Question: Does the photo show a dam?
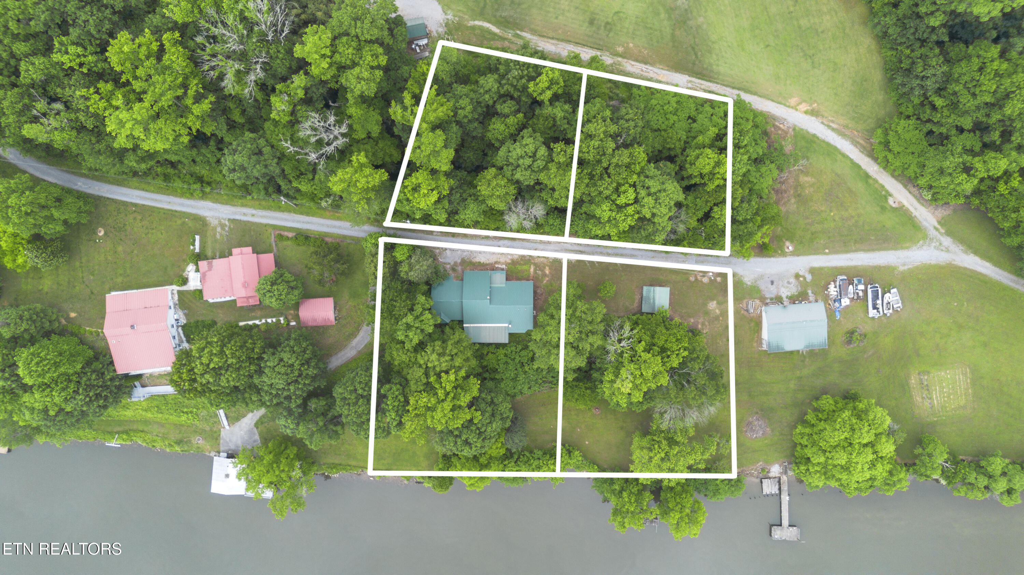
No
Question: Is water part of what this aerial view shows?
Yes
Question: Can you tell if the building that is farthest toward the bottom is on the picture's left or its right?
left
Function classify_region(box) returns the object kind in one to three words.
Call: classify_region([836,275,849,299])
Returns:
vehicle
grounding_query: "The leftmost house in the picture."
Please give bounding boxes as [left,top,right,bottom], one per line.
[103,288,176,375]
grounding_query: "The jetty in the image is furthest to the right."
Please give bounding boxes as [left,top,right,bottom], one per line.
[770,463,800,542]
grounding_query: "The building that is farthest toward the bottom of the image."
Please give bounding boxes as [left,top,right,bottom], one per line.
[211,456,271,500]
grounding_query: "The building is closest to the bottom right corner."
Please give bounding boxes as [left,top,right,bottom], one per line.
[758,302,827,353]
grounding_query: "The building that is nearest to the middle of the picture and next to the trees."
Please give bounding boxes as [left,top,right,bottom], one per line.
[431,264,533,343]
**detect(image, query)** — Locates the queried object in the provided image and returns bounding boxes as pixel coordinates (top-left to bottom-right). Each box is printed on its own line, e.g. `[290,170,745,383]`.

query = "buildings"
[211,456,271,500]
[103,288,176,375]
[199,247,277,306]
[641,286,670,313]
[431,264,533,343]
[758,302,827,353]
[409,16,428,41]
[299,297,336,326]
